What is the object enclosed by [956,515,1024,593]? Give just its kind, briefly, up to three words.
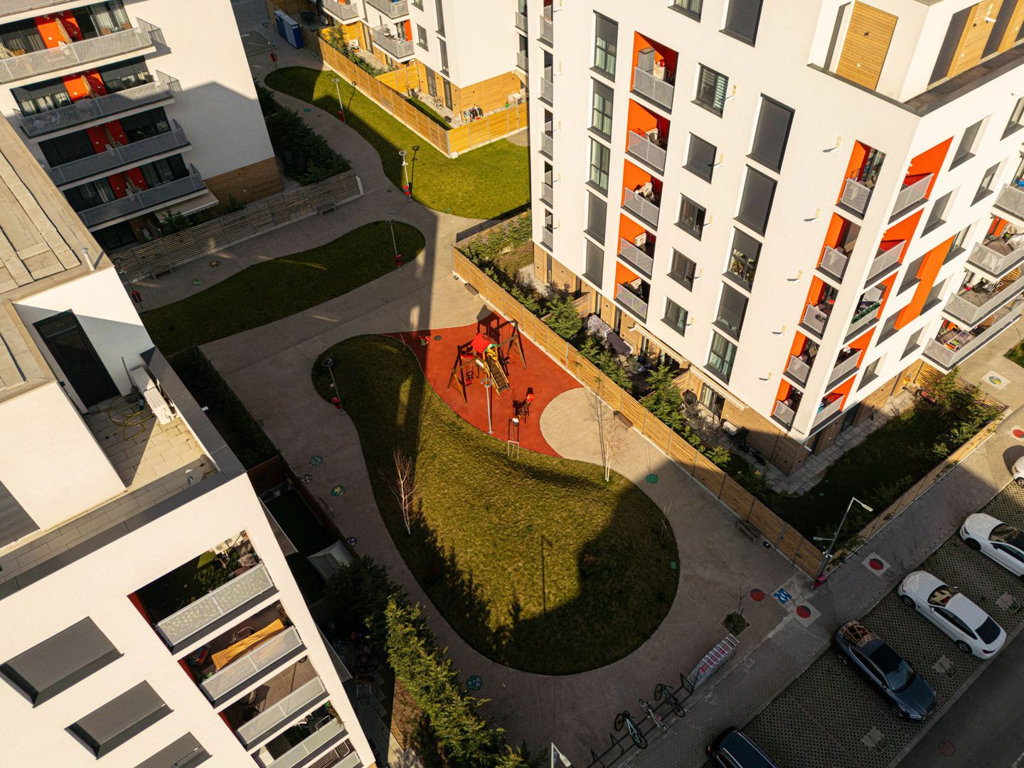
car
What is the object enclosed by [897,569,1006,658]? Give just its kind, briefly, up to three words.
car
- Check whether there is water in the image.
No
